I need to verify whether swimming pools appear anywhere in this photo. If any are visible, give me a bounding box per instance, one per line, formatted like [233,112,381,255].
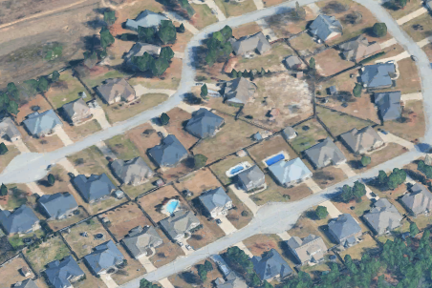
[227,163,249,176]
[163,197,185,212]
[263,151,288,166]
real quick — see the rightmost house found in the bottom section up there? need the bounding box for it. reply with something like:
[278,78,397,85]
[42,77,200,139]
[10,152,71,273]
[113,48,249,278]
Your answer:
[397,186,432,213]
